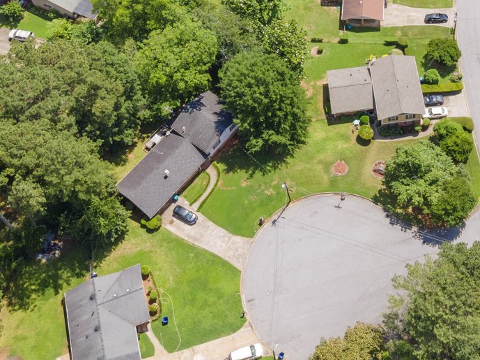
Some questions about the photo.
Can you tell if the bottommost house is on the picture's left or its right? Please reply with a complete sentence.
The bottommost house sits on the left side.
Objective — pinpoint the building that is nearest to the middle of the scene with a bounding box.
[113,99,239,219]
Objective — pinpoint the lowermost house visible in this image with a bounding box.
[64,262,150,360]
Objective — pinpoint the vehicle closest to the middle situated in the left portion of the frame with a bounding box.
[170,201,200,227]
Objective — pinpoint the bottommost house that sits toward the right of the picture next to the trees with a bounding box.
[323,55,431,135]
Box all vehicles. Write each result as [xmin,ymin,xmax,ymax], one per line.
[426,107,448,120]
[426,94,446,106]
[9,29,36,41]
[170,201,200,227]
[222,340,267,360]
[424,13,448,24]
